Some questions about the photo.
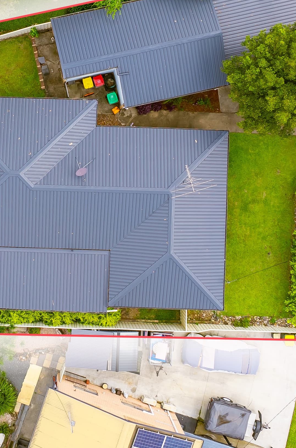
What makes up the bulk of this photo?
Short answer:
buildings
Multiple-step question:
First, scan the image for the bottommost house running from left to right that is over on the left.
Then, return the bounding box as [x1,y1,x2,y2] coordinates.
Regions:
[26,374,187,448]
